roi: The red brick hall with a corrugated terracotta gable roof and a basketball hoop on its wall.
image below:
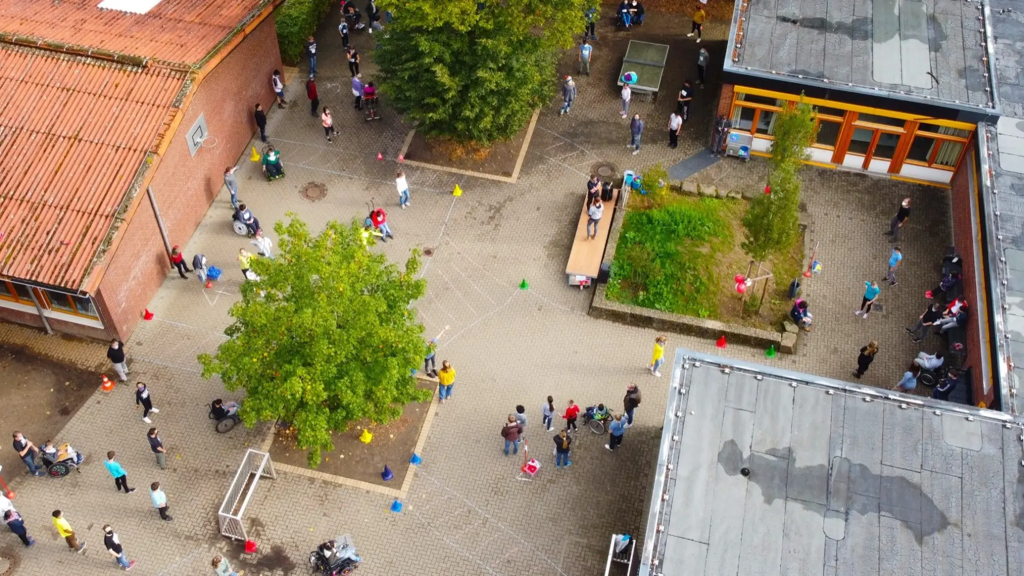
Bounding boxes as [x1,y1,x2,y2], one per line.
[0,0,283,345]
